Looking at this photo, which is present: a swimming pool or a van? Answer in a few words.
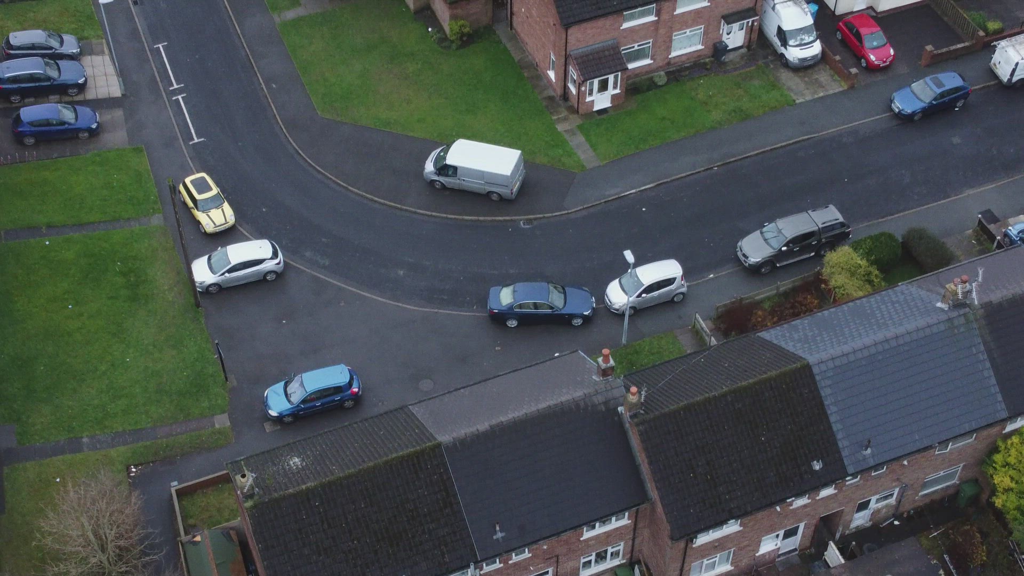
van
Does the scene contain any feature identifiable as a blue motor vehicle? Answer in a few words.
Yes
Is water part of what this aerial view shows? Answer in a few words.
No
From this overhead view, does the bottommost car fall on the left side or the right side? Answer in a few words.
left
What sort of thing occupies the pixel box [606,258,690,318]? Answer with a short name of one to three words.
car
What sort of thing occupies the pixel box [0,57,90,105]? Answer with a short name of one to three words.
car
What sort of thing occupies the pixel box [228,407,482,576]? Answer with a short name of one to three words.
house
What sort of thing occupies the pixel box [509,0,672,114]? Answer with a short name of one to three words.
house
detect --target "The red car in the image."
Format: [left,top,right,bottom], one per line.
[834,13,893,69]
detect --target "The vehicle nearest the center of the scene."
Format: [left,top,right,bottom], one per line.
[486,279,596,329]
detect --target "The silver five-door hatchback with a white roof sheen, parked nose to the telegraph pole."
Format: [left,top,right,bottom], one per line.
[192,236,288,295]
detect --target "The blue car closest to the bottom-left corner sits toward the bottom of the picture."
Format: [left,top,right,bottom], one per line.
[264,361,365,426]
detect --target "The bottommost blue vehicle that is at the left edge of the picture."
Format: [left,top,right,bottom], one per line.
[12,100,102,146]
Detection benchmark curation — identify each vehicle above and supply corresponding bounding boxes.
[606,258,690,318]
[889,69,973,122]
[736,205,848,277]
[834,13,893,69]
[264,361,365,426]
[975,34,1024,92]
[192,236,288,295]
[486,279,596,329]
[758,0,822,72]
[0,57,90,105]
[423,139,528,202]
[0,26,83,66]
[176,169,237,237]
[12,100,102,146]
